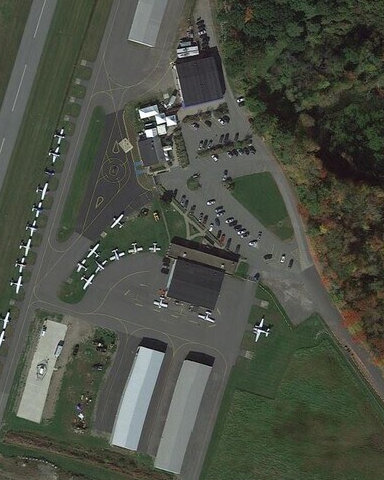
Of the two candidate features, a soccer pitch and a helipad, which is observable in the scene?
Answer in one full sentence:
It is a helipad that can be seen here.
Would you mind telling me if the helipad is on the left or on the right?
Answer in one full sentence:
It is on the left.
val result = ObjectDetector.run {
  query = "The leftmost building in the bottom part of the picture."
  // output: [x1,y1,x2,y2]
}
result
[111,346,165,451]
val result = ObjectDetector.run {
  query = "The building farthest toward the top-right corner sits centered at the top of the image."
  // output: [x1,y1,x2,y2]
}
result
[174,57,222,106]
